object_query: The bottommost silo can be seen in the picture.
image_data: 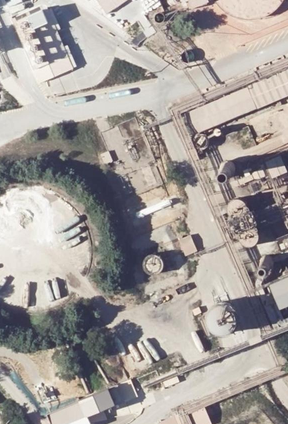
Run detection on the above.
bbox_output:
[205,297,238,336]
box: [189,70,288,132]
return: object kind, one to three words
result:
building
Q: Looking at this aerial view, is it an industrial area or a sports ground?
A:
industrial area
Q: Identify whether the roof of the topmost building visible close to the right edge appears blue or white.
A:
white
